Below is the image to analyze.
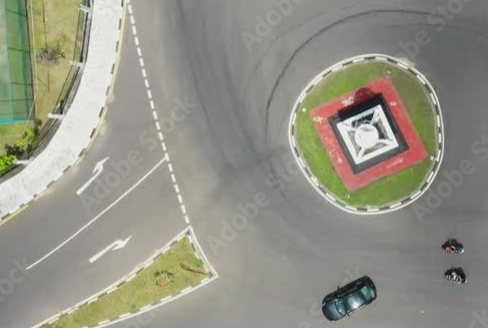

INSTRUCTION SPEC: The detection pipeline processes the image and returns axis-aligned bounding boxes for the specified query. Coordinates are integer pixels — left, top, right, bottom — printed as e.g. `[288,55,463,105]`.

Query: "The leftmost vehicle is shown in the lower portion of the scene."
[322,278,377,318]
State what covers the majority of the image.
paved ground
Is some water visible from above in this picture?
No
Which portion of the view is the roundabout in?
right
